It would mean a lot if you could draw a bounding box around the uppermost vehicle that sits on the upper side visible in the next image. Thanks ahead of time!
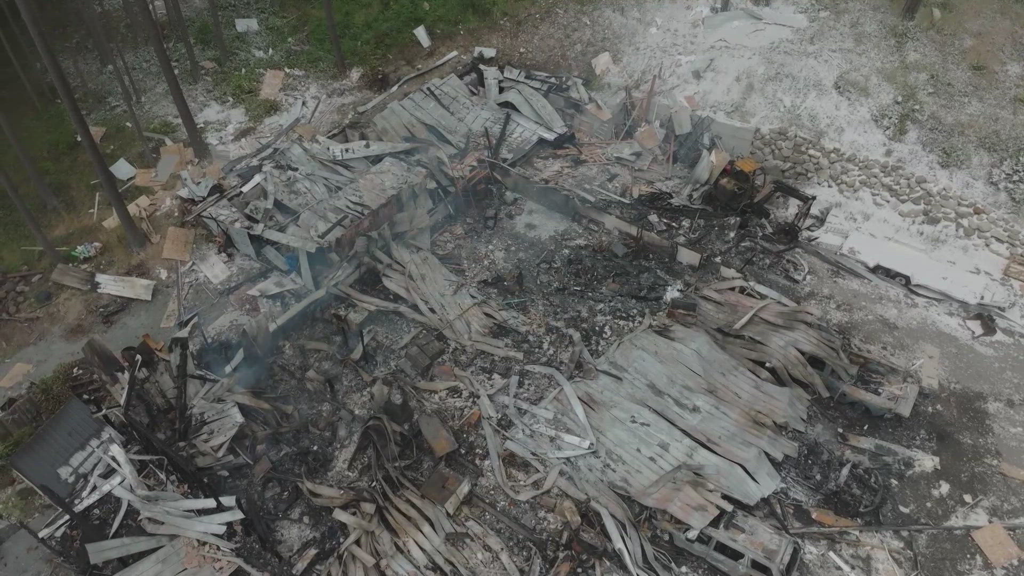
[713,157,817,241]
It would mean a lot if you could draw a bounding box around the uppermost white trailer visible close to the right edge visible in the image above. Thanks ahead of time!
[801,227,1011,308]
